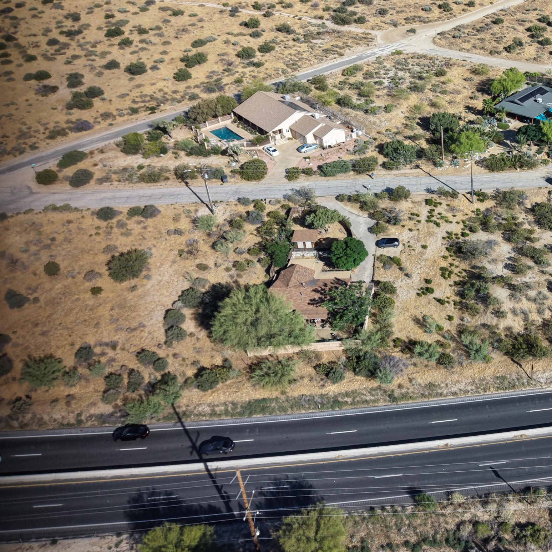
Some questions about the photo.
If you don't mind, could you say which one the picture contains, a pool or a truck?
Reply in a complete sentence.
There is a pool in the scene.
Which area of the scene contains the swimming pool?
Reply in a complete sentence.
You can find the swimming pool in the top area of the picture.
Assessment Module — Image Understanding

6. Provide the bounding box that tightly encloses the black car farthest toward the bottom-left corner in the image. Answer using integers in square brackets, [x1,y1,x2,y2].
[109,427,148,443]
